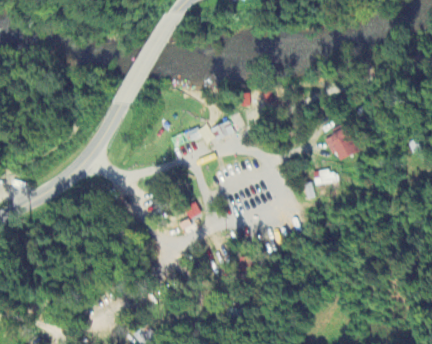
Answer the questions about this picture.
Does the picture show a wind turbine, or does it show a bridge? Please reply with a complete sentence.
Visible in the photo is a bridge.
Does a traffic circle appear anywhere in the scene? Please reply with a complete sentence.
No, I find no traffic circle anywhere in the image.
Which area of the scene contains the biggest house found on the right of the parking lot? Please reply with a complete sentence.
You can find the biggest house found on the right of the parking lot in the right area of the picture.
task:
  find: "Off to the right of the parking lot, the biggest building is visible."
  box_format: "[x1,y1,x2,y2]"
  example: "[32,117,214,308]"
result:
[325,126,358,161]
